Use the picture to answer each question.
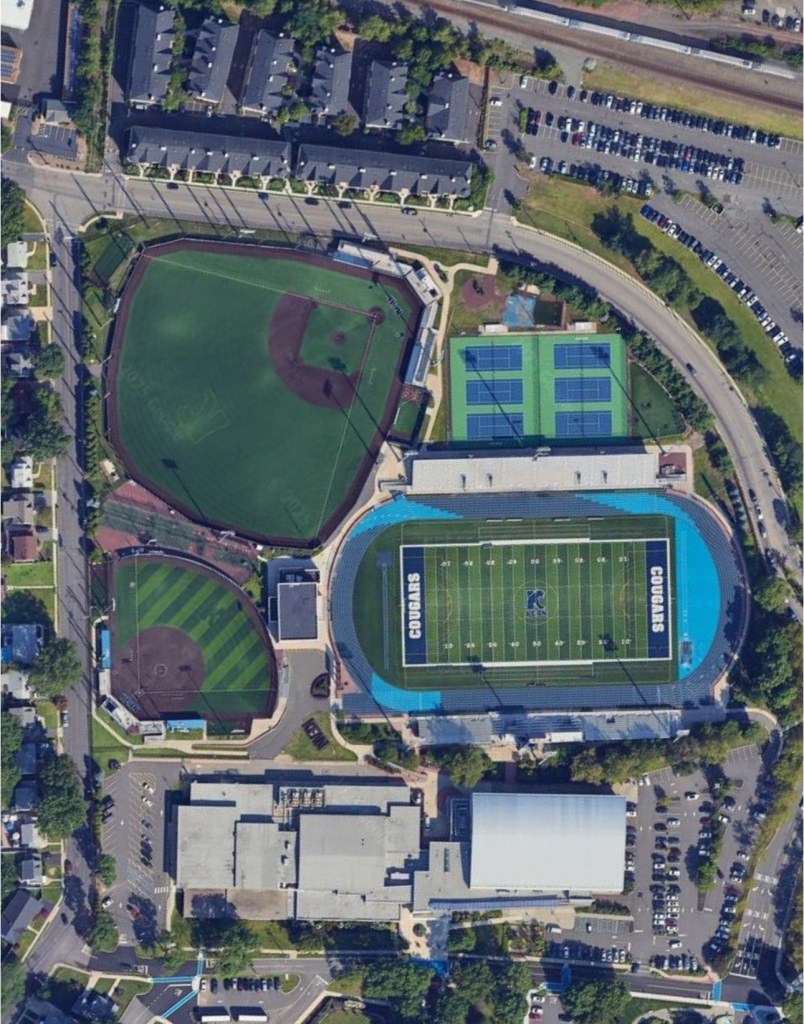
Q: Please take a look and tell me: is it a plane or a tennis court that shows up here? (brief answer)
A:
tennis court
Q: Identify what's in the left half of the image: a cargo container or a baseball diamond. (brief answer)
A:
baseball diamond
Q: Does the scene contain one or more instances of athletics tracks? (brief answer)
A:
Yes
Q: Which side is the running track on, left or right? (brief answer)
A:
right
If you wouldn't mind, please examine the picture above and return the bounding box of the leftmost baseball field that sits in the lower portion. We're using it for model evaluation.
[110,549,276,728]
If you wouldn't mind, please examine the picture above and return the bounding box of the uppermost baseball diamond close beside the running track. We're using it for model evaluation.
[104,239,424,547]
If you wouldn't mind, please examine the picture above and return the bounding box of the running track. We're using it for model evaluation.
[331,491,746,717]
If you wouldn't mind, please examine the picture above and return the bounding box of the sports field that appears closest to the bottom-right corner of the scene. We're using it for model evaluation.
[356,516,677,690]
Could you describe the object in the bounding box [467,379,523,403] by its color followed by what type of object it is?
blue tennis court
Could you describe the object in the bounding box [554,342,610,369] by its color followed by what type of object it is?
blue tennis court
